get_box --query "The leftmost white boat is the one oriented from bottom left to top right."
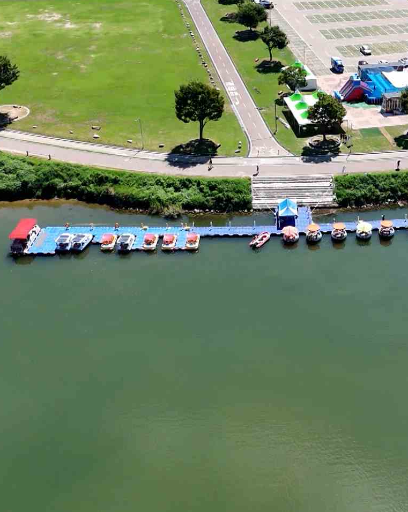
[22,228,44,251]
